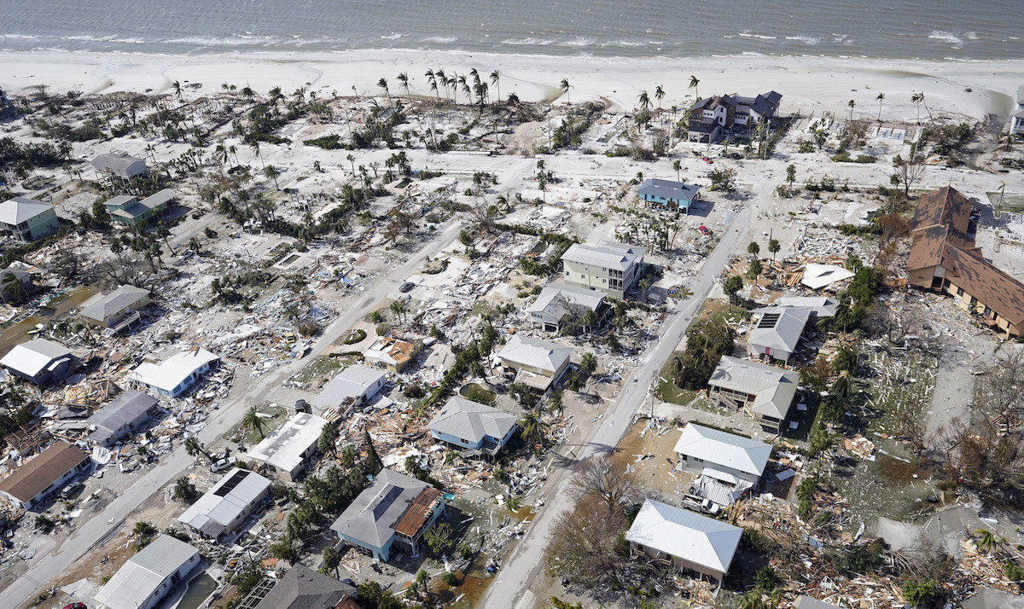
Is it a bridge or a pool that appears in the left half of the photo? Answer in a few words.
pool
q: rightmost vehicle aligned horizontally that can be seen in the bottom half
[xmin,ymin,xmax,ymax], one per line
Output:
[682,493,720,512]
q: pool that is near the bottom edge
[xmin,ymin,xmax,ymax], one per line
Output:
[173,568,222,609]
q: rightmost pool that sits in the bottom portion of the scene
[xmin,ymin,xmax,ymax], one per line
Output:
[458,383,498,406]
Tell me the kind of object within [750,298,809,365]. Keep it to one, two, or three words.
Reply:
house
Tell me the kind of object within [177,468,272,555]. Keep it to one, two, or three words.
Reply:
house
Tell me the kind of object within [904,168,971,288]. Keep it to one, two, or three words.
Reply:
building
